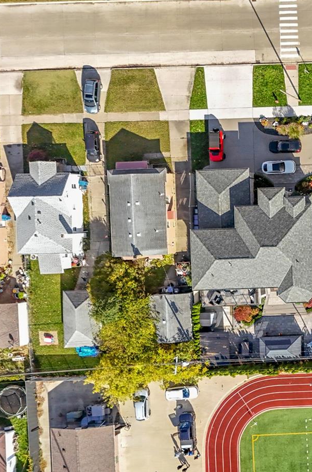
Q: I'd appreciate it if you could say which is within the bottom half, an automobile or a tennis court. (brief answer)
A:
automobile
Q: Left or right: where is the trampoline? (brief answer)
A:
left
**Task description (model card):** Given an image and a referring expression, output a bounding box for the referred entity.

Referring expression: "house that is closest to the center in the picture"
[108,161,175,259]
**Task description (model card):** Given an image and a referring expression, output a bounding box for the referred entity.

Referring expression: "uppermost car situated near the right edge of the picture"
[268,138,302,154]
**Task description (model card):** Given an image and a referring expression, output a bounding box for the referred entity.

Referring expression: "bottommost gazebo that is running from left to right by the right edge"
[256,335,303,360]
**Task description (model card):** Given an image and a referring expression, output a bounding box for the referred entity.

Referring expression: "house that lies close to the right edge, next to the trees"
[190,168,312,303]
